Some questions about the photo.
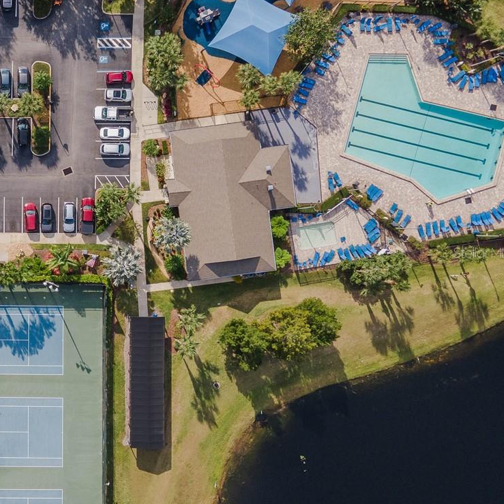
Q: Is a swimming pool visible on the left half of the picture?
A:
No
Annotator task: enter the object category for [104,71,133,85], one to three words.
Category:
vehicle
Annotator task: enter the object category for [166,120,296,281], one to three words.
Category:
building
